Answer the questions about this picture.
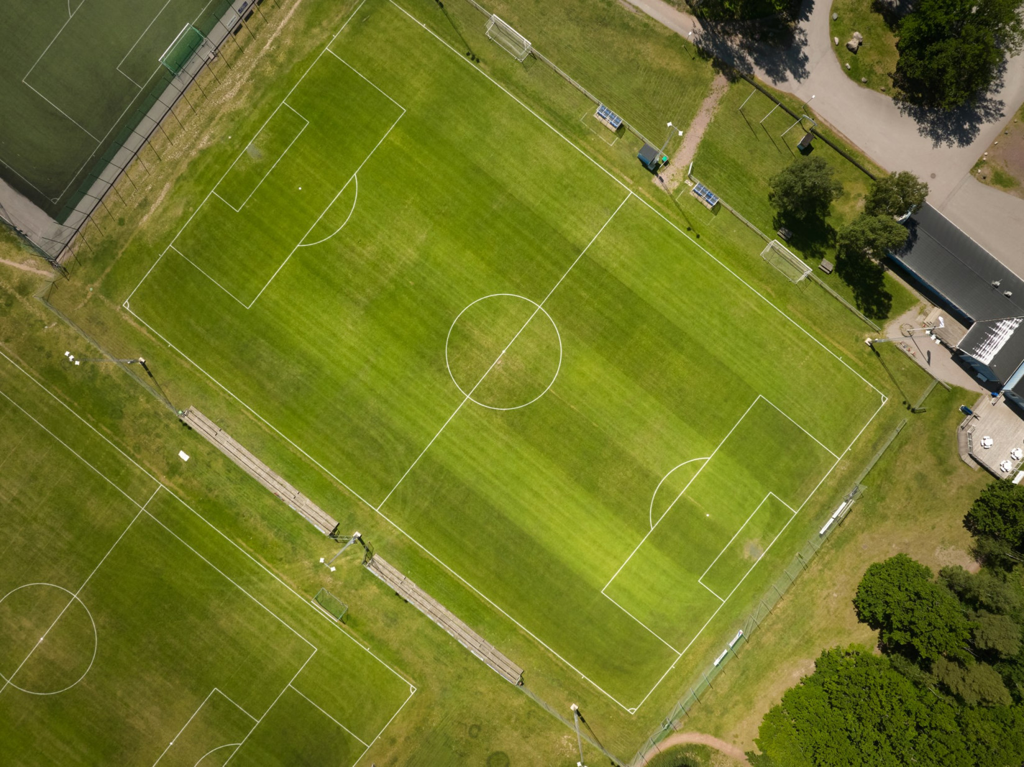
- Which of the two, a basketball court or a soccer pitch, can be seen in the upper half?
soccer pitch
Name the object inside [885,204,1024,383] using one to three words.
building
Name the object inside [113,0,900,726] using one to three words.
soccer field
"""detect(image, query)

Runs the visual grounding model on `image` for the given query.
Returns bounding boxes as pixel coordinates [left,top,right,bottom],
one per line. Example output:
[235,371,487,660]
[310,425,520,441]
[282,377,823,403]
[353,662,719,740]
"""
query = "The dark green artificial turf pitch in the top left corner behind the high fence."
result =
[0,0,234,224]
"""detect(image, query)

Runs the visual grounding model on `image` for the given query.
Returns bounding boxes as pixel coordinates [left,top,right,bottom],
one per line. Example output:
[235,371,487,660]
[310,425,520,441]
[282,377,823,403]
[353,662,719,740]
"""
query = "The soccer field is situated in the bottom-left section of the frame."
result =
[0,352,416,767]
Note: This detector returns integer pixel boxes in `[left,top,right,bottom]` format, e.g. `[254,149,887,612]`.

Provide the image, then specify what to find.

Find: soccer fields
[0,352,416,767]
[0,0,234,224]
[113,0,900,726]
